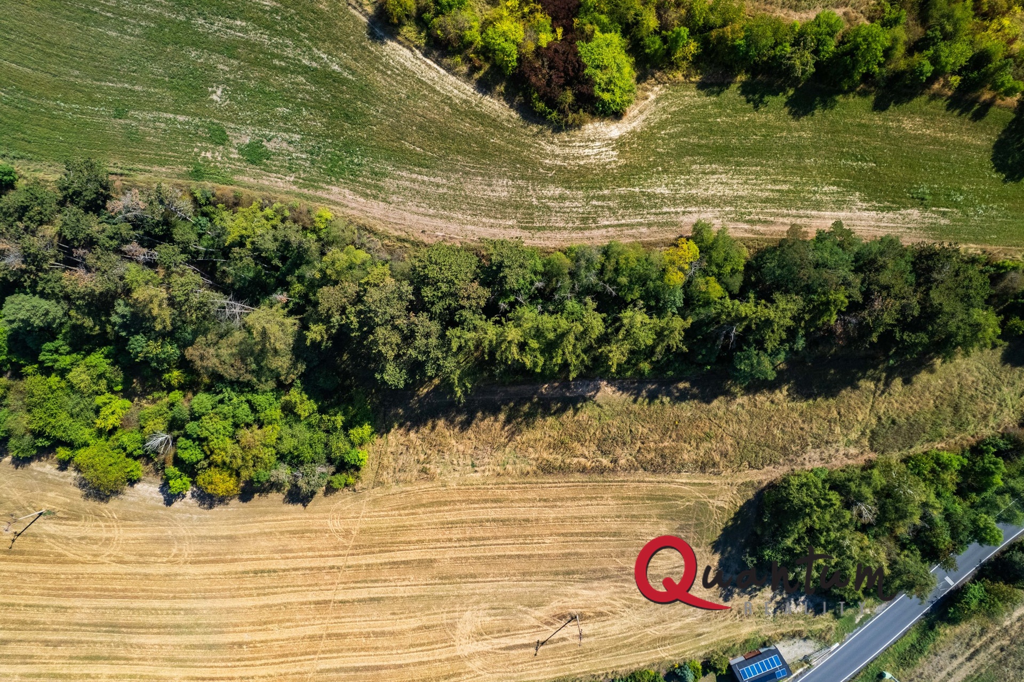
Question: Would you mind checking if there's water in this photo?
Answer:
No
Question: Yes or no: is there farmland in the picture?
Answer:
Yes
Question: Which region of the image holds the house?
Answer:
bottom right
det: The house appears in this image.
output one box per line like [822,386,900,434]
[728,641,786,682]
